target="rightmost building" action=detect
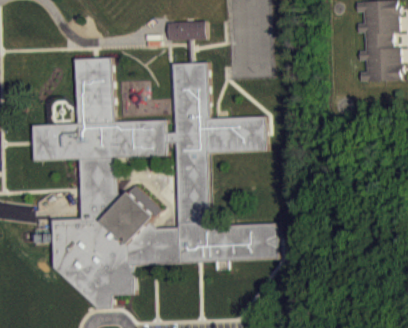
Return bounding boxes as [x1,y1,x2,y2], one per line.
[356,0,406,80]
